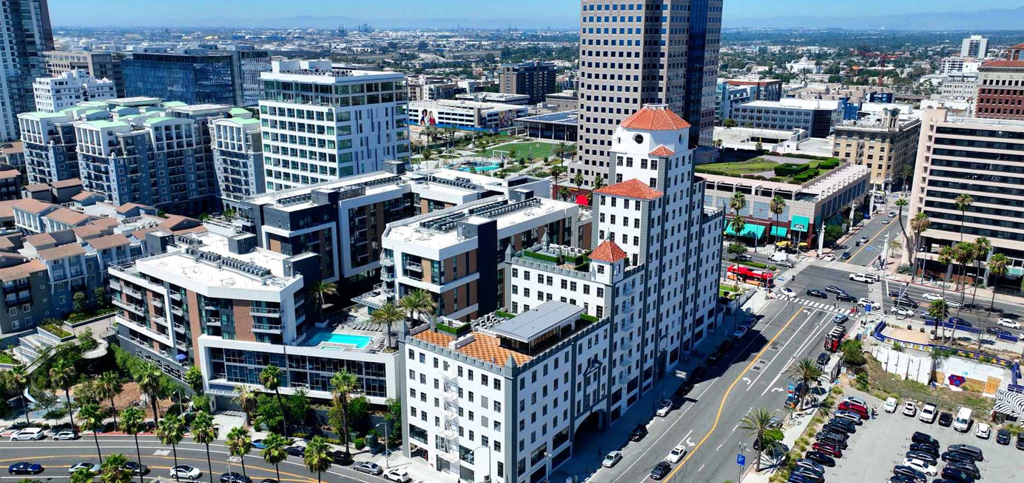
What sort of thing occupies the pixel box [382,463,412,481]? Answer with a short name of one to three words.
car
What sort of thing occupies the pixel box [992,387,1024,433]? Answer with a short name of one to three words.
building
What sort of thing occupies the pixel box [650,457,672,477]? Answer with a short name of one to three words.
car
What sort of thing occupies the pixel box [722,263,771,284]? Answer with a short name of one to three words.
bus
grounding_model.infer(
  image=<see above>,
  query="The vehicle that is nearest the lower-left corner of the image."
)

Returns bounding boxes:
[8,459,42,472]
